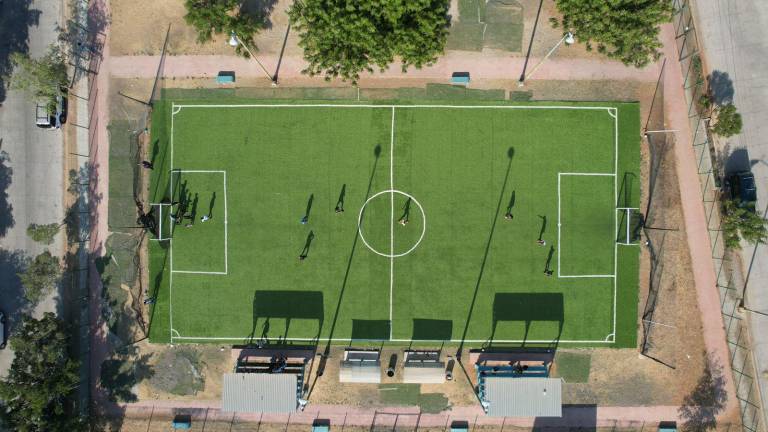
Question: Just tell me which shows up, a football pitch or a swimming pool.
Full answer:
Looking from above, you can make out a football pitch.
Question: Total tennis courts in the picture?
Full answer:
No tennis courts are visible.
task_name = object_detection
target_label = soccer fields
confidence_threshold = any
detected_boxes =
[148,100,640,349]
